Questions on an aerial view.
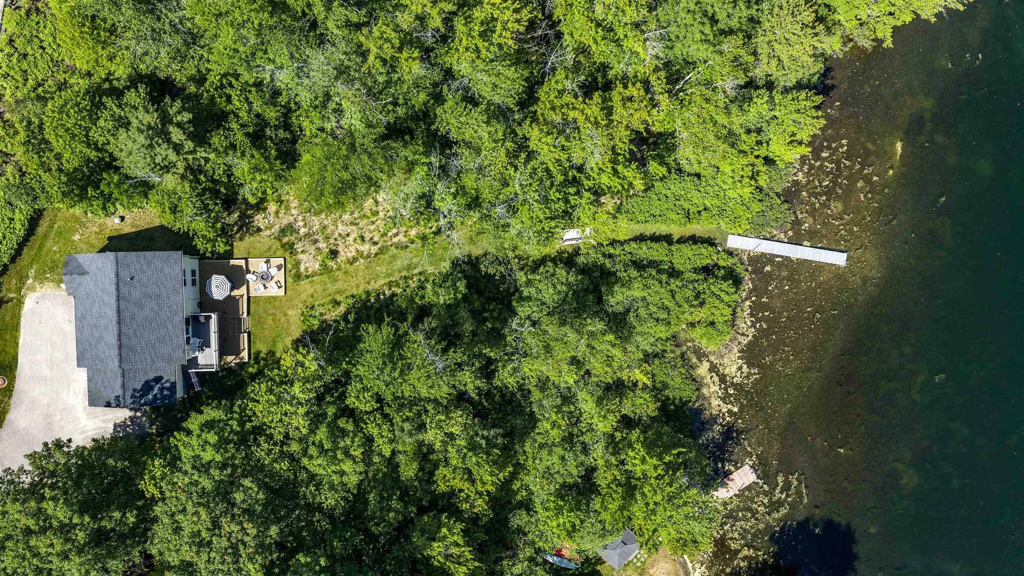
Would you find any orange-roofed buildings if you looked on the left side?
No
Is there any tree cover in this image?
Yes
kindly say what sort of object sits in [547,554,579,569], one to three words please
boat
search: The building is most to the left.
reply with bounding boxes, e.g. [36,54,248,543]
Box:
[62,251,201,408]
